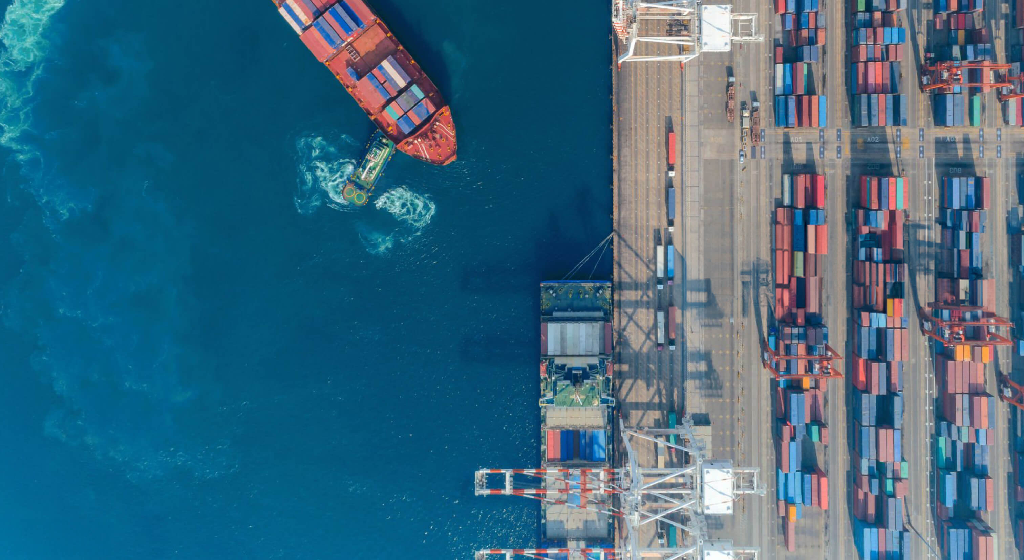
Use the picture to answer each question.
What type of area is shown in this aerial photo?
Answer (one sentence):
It's a port.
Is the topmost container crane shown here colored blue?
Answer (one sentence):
No, the topmost container crane is white.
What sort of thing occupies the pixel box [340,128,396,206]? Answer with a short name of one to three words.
boat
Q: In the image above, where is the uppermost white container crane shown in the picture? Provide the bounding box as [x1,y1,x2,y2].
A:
[611,0,769,73]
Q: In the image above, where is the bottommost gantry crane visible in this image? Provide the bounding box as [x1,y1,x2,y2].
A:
[475,478,759,560]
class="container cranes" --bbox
[475,407,769,527]
[475,478,759,560]
[923,305,1014,347]
[1004,372,1024,411]
[611,0,769,73]
[922,59,1012,94]
[764,337,846,380]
